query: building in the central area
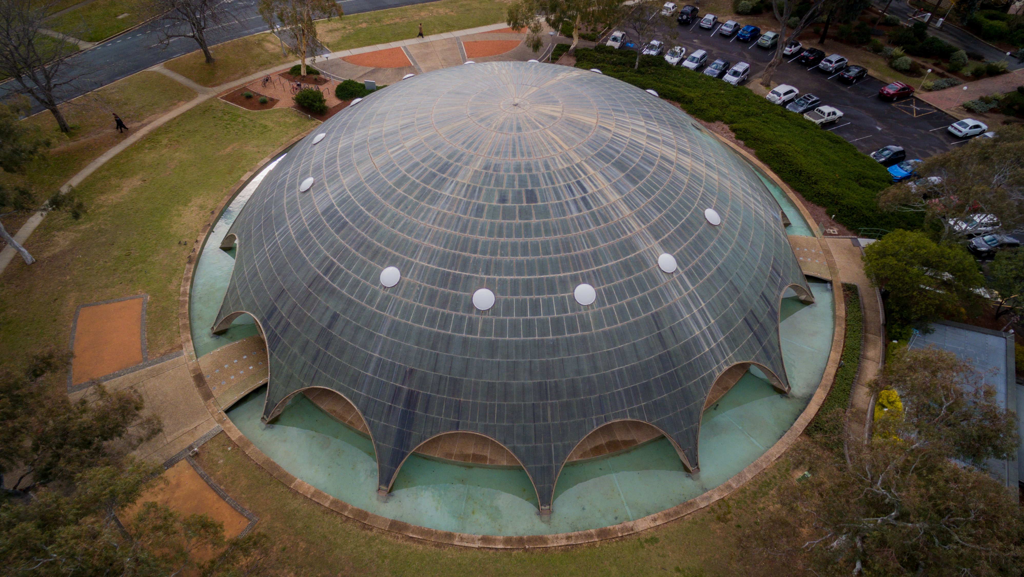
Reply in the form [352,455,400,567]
[200,59,825,531]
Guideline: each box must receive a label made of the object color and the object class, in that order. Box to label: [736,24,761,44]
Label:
blue car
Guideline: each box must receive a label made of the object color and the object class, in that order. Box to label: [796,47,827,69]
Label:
black car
